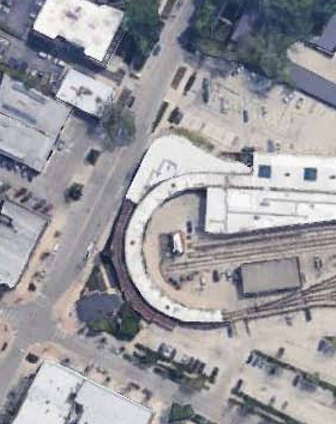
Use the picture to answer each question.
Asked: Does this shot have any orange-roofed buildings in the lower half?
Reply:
No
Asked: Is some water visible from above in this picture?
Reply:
No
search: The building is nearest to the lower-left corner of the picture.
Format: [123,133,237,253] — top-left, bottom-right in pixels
[13,358,85,424]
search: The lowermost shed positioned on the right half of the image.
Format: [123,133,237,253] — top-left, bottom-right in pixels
[242,259,301,292]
